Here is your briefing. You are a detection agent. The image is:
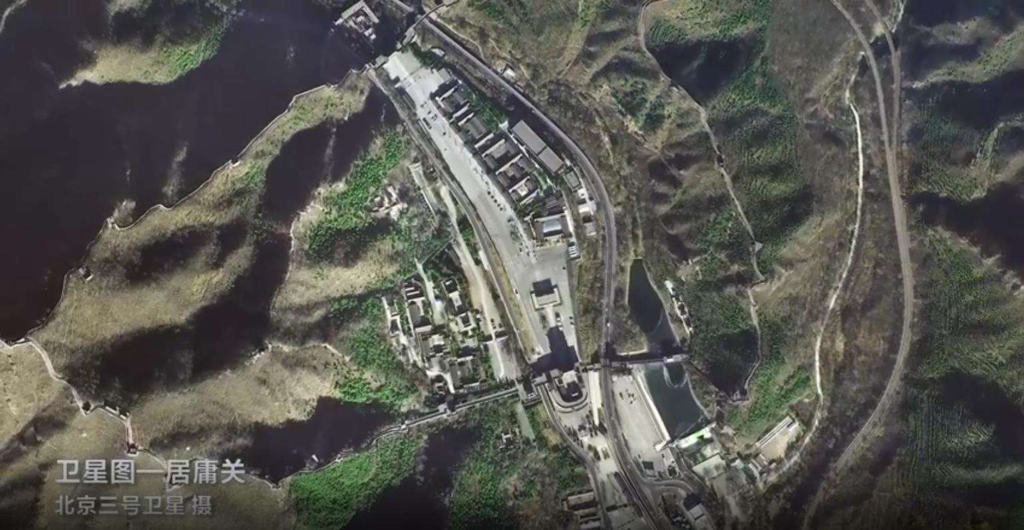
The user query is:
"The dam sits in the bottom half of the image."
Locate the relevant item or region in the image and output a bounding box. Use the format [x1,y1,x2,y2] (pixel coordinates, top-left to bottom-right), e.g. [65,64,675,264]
[632,374,672,443]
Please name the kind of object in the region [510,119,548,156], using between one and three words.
building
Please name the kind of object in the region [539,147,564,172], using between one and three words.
building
